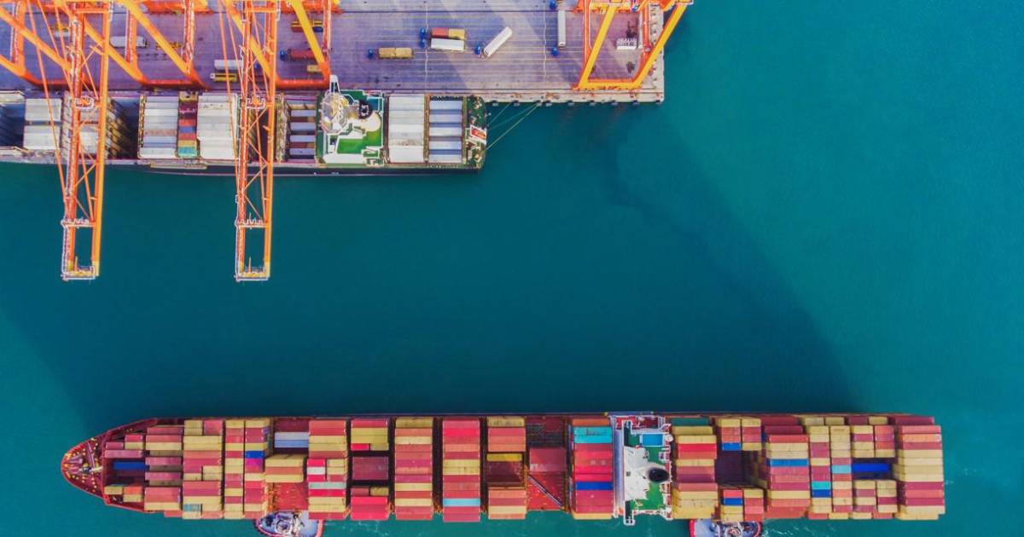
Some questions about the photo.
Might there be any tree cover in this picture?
No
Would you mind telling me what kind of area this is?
port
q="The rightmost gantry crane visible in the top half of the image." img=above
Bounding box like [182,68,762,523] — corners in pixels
[569,0,689,90]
